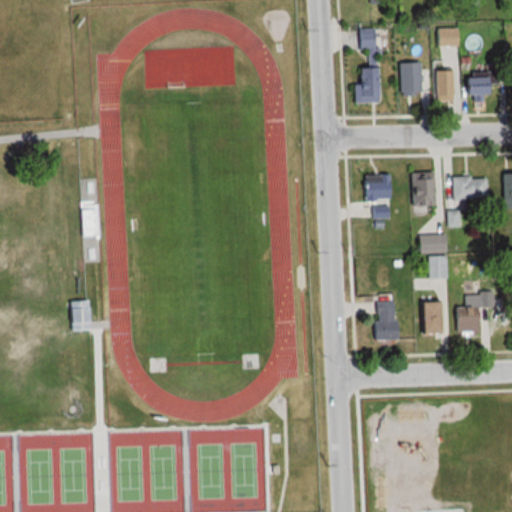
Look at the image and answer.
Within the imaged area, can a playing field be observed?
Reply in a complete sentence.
Yes, I can see a playing field in this picture.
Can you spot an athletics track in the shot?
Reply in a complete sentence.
Yes, there is an athletics track in the image.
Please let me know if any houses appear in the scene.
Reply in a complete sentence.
Yes, you can see a house in this photo.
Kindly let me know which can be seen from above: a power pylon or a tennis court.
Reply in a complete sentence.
Looking from above, you can make out a tennis court.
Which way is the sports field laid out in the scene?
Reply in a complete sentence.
The sports field is laid out up and down.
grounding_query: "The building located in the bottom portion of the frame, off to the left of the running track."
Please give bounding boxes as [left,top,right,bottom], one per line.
[71,300,92,332]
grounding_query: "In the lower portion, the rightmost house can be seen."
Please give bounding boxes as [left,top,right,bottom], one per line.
[456,290,496,338]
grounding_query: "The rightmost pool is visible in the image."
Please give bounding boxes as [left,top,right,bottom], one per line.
[464,34,483,54]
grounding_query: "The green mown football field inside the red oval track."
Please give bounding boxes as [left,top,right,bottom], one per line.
[120,30,274,402]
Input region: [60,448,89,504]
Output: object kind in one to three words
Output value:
tennis court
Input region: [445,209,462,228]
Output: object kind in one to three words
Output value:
building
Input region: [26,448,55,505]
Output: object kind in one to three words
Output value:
tennis court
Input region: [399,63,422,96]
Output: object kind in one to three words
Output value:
house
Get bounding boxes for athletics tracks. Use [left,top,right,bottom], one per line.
[97,9,298,422]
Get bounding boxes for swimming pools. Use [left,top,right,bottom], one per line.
[464,34,483,54]
[410,44,422,56]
